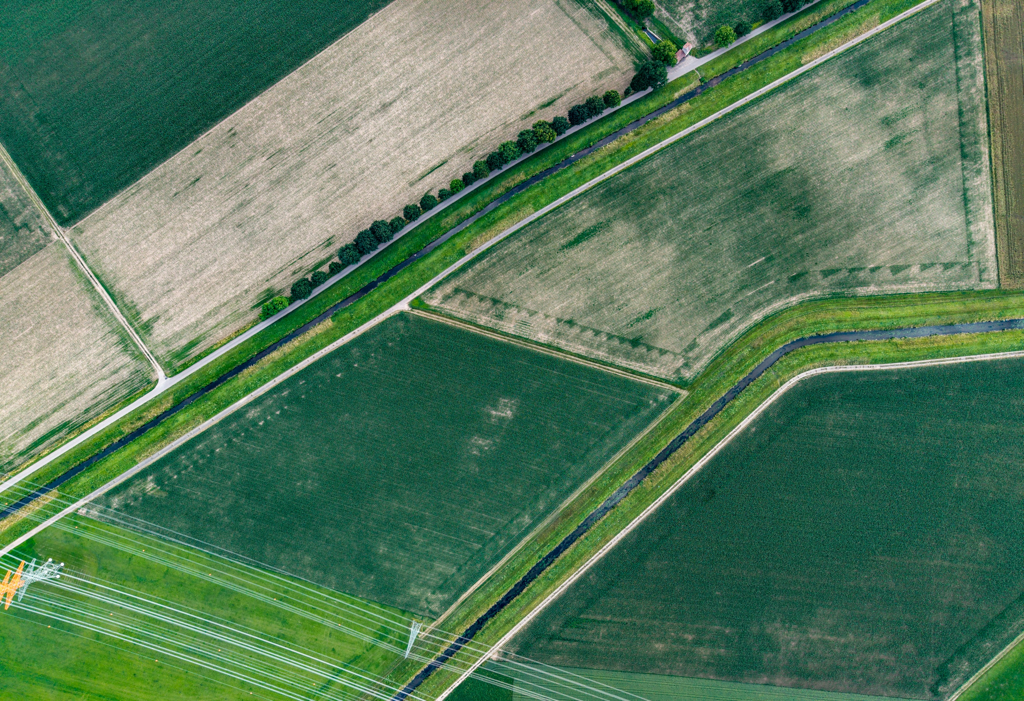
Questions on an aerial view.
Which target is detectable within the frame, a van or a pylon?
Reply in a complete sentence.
I can see a pylon in this picture.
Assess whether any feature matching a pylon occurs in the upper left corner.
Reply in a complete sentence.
No, I can find no pylon in the upper left corner.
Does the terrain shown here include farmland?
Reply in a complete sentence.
Yes, farmland can be seen from above here.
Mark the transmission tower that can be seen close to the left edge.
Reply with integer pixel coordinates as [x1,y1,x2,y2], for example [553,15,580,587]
[0,559,64,614]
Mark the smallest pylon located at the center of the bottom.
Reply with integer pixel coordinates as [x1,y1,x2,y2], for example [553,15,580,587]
[401,618,424,663]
